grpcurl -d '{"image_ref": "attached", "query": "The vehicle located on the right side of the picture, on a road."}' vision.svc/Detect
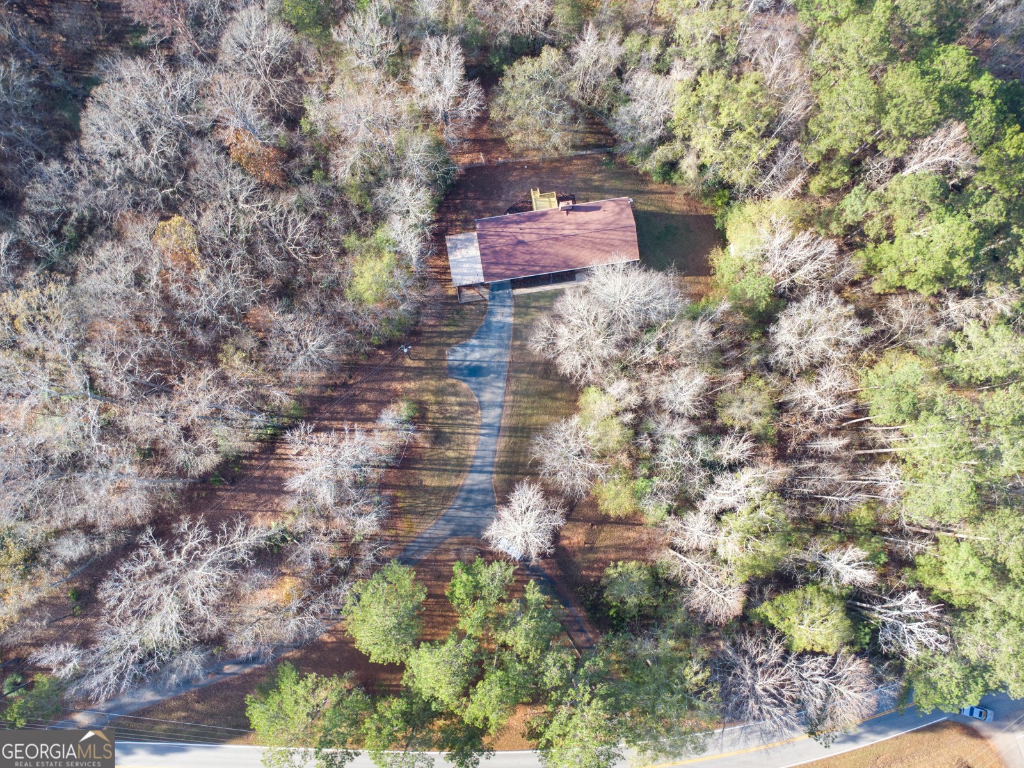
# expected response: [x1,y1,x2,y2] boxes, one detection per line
[958,703,994,723]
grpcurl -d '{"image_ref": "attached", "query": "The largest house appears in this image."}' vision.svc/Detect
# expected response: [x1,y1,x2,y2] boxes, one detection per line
[474,196,639,284]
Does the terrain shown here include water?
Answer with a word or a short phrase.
No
